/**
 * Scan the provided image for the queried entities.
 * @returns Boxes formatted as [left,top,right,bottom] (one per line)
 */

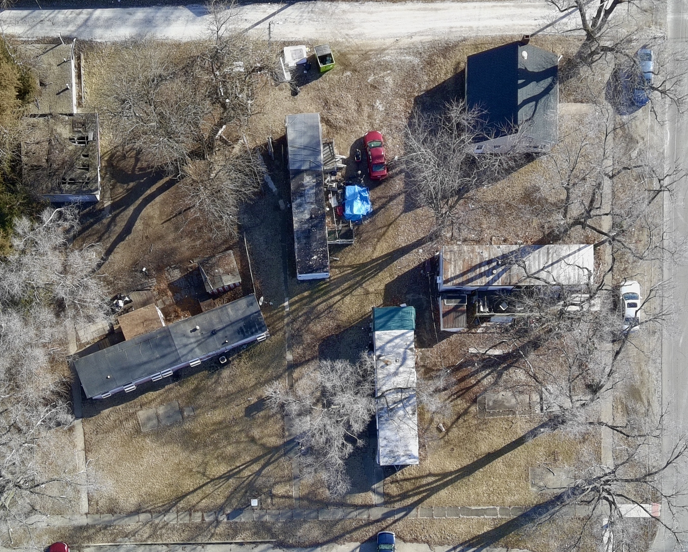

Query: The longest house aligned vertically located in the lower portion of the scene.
[371,306,419,471]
